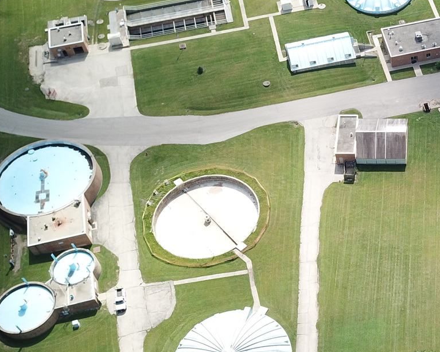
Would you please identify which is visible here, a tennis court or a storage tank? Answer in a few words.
storage tank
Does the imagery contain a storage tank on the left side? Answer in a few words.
Yes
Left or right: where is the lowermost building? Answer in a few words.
left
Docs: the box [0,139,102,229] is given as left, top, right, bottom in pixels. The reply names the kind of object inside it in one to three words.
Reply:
storage tank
